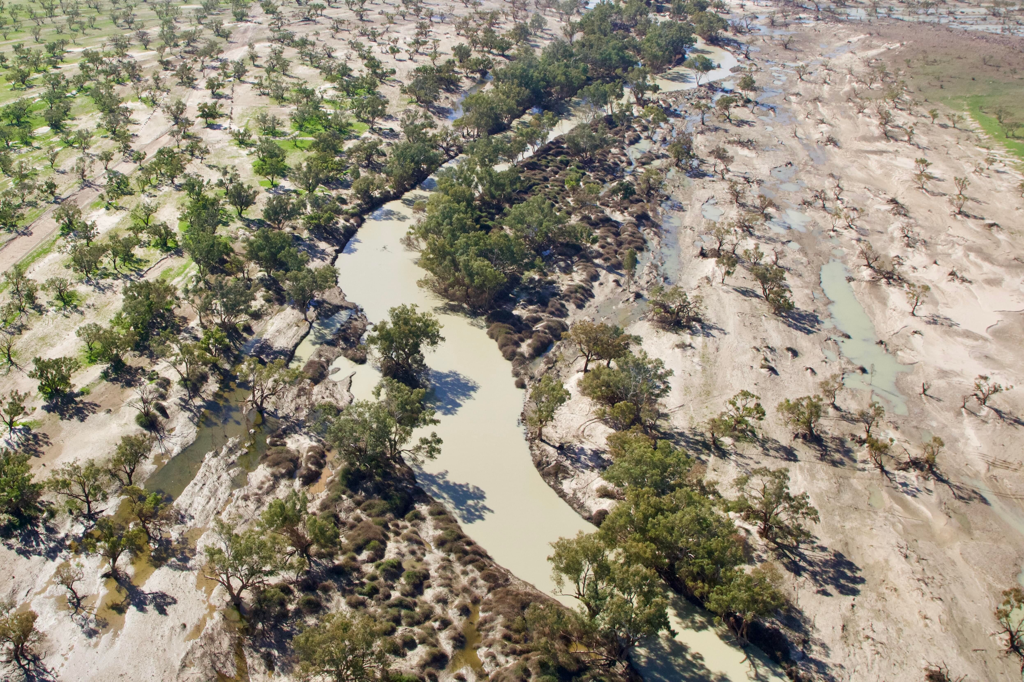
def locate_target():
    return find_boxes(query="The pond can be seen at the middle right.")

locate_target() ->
[818,257,916,418]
